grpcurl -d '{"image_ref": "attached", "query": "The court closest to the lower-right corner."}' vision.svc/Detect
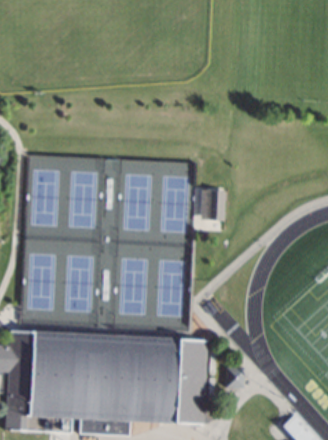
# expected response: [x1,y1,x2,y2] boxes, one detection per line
[156,260,185,318]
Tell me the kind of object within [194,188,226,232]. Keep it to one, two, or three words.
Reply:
building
